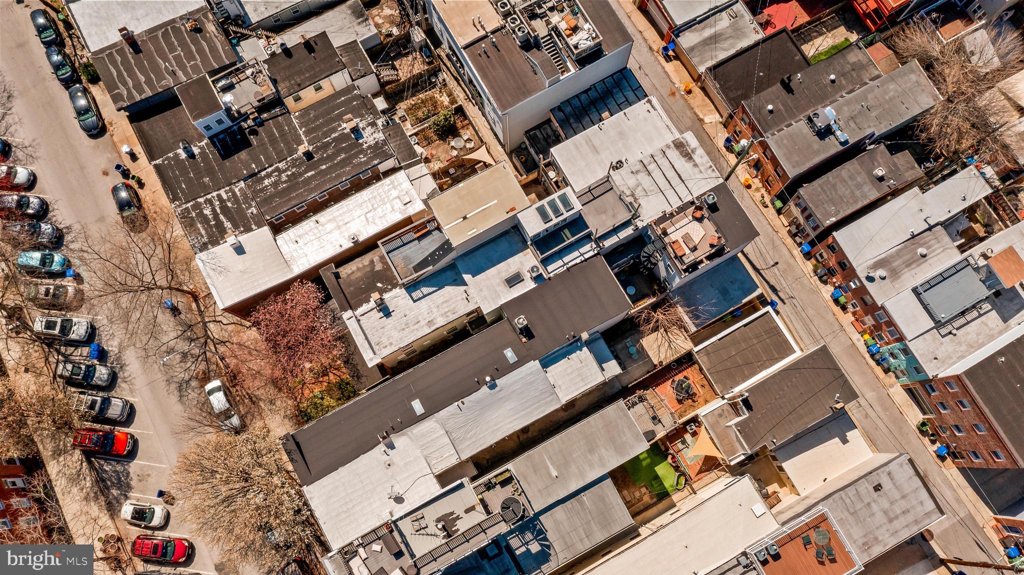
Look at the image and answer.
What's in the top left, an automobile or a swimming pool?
automobile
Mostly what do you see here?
buildings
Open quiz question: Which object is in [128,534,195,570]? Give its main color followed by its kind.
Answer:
red car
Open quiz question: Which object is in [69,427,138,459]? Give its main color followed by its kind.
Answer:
red car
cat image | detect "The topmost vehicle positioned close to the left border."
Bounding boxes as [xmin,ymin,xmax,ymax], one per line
[28,5,65,49]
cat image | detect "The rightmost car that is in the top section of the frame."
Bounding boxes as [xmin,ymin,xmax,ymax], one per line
[113,180,153,234]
